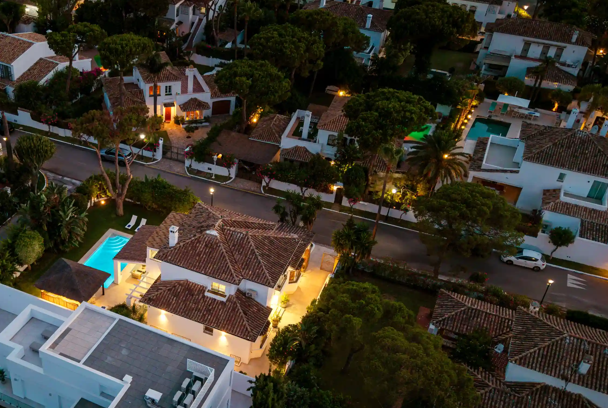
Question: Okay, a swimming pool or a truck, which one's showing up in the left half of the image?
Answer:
swimming pool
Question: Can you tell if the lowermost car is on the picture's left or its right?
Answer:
right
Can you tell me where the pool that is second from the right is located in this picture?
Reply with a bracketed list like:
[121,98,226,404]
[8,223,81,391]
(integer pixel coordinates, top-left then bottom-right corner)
[399,123,437,146]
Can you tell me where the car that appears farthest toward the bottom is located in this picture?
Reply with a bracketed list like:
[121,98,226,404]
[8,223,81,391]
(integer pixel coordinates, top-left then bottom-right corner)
[498,252,546,277]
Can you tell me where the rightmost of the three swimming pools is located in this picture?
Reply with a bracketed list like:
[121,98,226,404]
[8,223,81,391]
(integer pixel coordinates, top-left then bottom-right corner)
[460,98,600,142]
